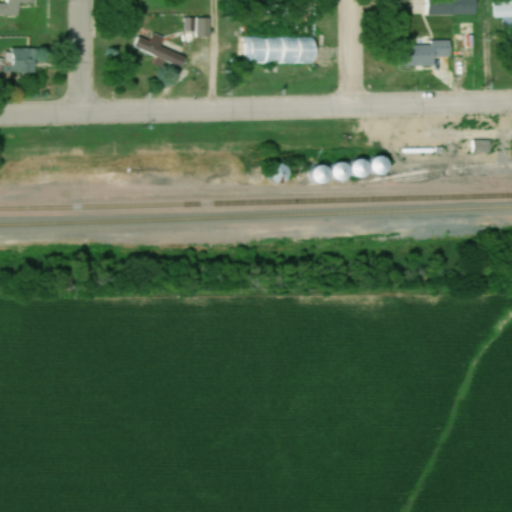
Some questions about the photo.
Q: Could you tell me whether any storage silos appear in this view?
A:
Yes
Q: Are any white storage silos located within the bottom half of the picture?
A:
No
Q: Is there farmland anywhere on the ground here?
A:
Yes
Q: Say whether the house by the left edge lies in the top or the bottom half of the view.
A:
top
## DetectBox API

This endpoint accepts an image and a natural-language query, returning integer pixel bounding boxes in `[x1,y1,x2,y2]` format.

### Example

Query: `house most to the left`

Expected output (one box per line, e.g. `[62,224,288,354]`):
[2,48,52,74]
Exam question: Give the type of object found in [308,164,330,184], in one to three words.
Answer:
silo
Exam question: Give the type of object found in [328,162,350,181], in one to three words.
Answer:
silo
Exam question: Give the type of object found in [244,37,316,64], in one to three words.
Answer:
shed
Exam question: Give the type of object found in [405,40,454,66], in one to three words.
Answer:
house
